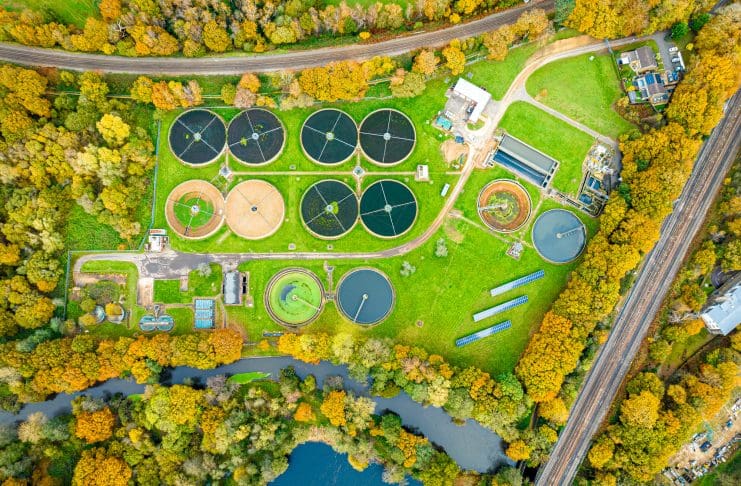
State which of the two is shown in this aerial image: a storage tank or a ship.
storage tank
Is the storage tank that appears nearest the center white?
No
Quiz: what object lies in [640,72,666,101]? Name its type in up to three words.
house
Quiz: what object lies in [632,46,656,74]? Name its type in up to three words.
house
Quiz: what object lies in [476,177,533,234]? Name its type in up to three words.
storage tank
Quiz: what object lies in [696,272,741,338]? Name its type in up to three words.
building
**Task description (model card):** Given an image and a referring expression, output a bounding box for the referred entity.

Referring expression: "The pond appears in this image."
[266,440,418,486]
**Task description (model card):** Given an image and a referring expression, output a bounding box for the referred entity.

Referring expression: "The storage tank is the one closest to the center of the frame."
[336,267,394,326]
